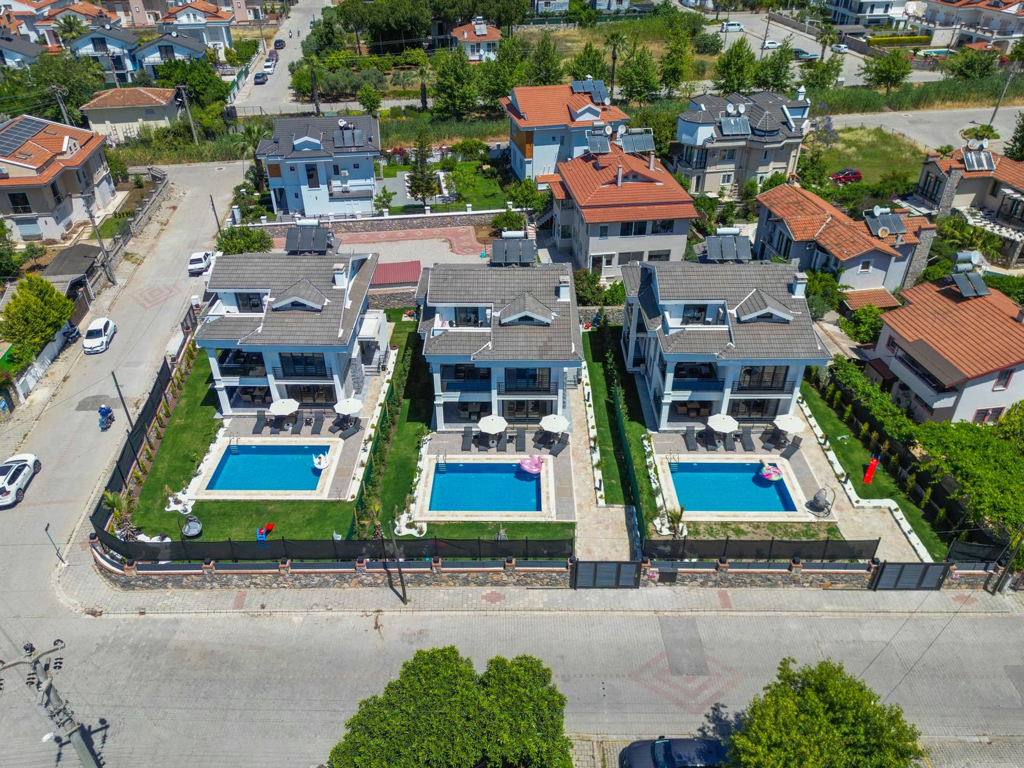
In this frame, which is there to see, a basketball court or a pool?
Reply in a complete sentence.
It is a pool that can be seen here.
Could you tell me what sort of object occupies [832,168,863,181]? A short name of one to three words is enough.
vehicle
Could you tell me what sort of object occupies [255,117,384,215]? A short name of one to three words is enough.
house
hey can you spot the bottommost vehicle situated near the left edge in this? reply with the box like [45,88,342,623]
[0,455,39,501]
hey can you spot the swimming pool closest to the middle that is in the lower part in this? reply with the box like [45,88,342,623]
[414,448,556,519]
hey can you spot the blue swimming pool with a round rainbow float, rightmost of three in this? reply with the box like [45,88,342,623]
[656,448,816,519]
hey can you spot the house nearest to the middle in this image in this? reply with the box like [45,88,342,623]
[417,261,584,431]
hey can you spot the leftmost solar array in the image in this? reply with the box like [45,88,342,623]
[0,111,61,149]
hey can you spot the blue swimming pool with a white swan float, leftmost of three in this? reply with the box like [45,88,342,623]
[188,431,345,498]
